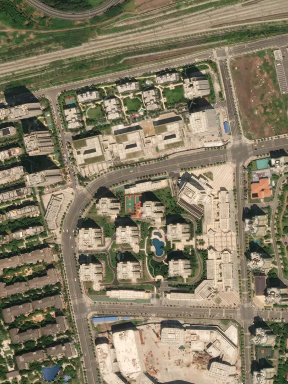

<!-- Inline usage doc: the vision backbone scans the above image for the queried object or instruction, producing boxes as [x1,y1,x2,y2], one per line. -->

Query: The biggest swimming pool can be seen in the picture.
[151,236,167,259]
